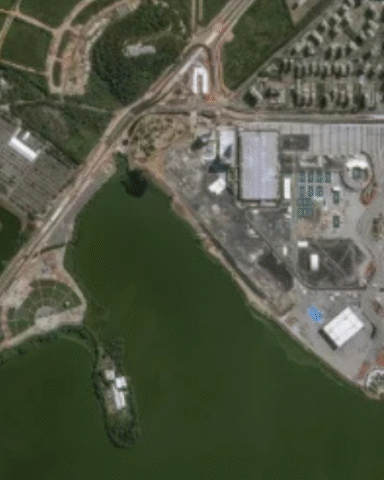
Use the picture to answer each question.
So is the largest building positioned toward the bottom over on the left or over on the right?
right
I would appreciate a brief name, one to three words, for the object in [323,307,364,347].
building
